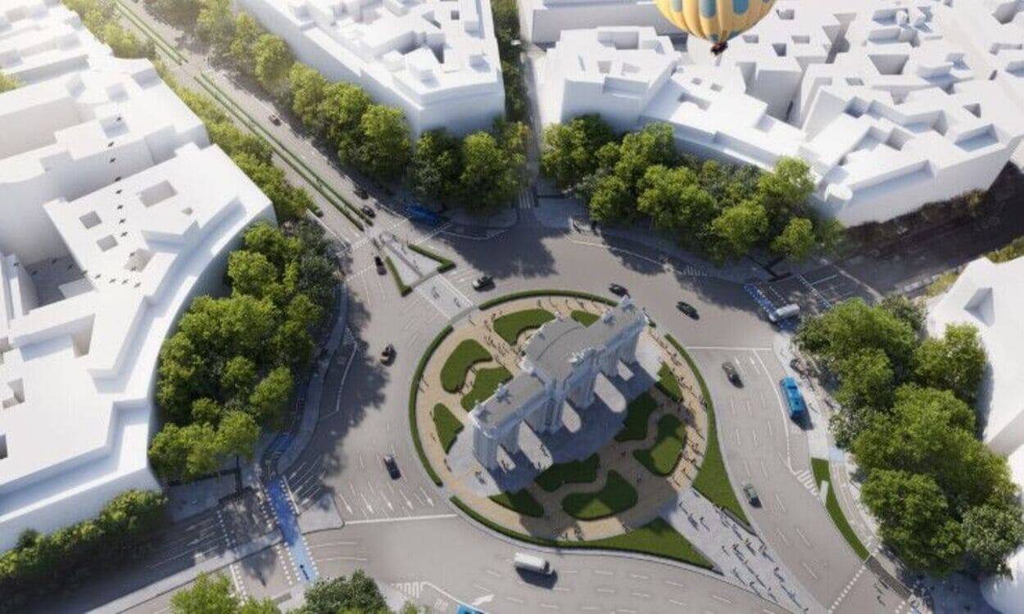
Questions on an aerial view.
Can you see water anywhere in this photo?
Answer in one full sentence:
No, the scene doesn't show any water.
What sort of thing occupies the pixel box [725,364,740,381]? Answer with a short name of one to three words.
car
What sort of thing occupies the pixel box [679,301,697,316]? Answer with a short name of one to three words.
car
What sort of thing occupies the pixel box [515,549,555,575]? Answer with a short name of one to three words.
truck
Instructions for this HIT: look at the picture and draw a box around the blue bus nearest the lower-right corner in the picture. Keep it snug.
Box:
[782,370,808,414]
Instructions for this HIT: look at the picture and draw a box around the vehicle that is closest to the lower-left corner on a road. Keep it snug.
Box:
[384,454,400,475]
